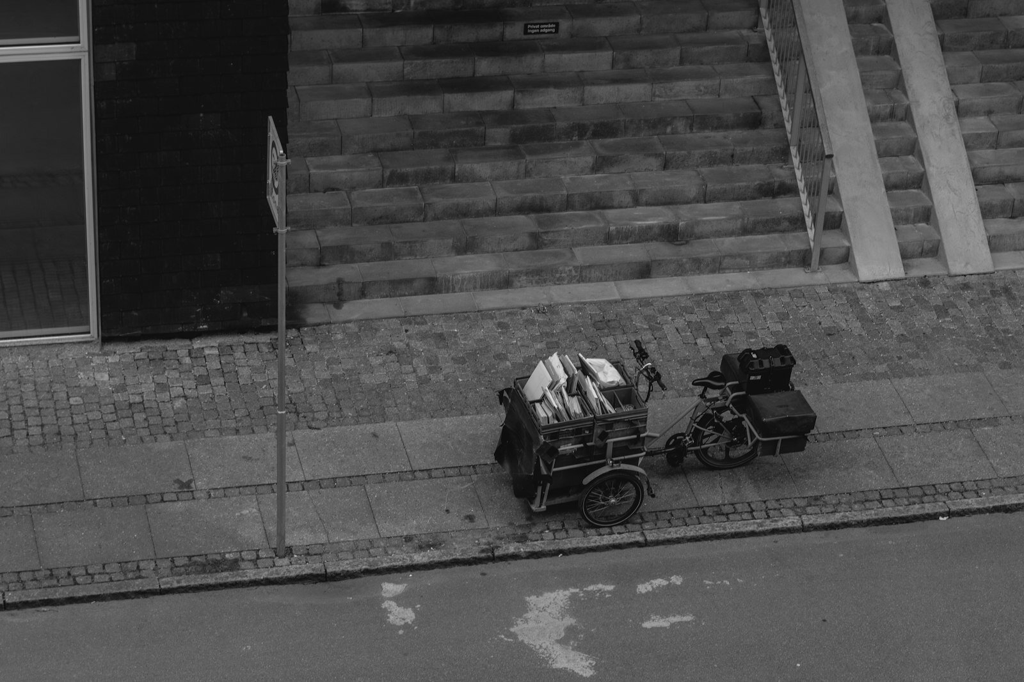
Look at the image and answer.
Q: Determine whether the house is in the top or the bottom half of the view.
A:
top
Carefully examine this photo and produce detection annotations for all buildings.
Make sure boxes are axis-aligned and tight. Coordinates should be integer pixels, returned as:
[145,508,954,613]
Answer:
[0,0,291,350]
